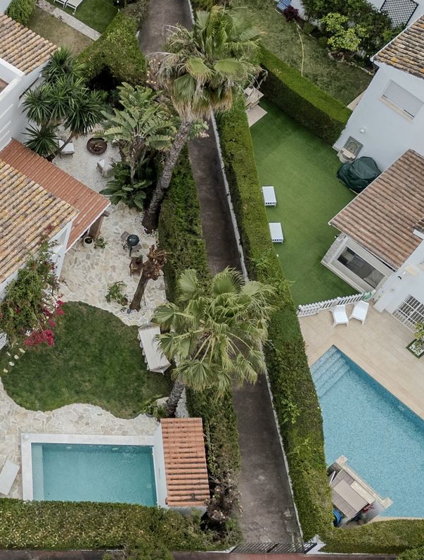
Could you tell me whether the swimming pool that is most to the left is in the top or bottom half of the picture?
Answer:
bottom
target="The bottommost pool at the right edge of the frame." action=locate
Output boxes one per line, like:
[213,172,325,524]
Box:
[310,349,424,518]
